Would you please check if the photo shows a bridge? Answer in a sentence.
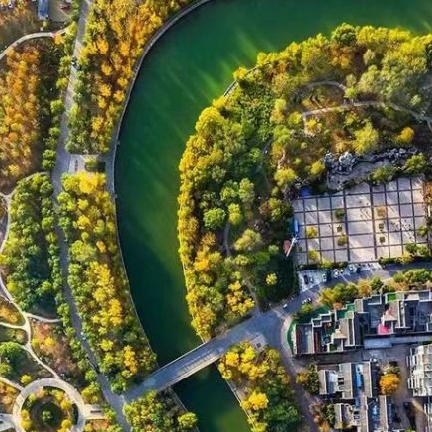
Yes, the frame does contain a bridge.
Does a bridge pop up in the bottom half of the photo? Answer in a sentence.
Yes, looking in the bottom half of the photo, one can make out a bridge.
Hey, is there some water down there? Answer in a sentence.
Yes, water shows up in the scene.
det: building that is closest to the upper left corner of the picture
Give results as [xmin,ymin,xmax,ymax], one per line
[37,0,50,24]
